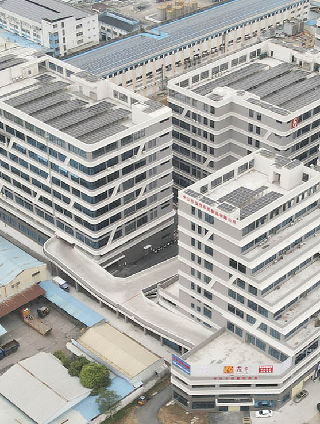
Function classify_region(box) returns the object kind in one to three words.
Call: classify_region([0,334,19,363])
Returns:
vehicle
